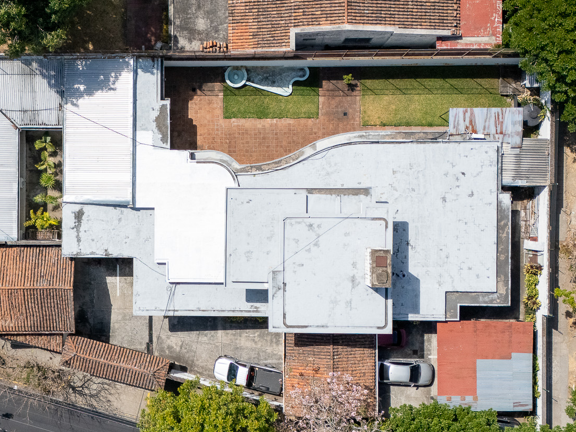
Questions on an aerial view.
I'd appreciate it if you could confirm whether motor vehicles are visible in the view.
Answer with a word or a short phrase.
Yes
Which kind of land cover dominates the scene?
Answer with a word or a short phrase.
buildings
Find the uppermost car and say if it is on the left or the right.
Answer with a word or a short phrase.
right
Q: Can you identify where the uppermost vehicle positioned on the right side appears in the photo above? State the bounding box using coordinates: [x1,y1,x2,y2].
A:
[378,323,411,351]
